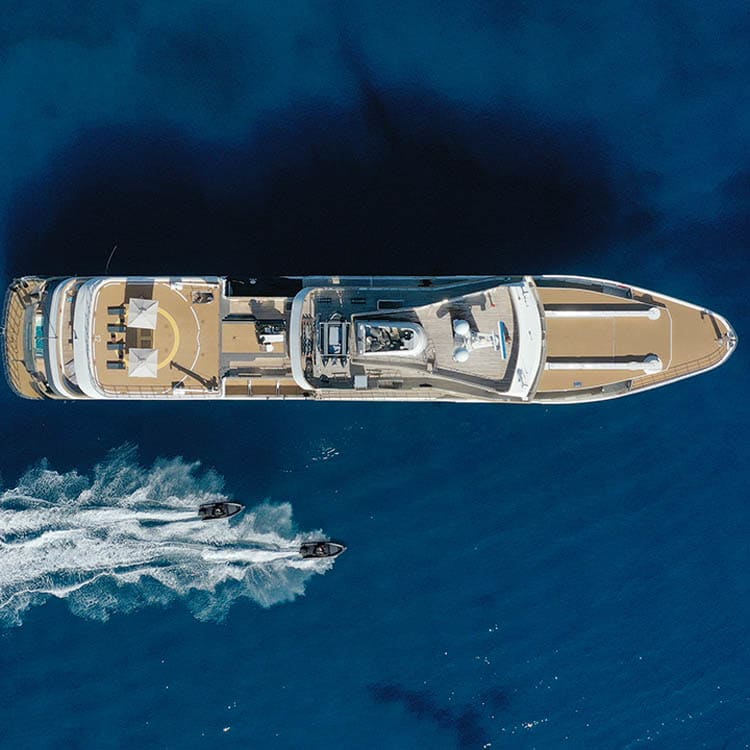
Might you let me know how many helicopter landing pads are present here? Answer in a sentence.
The picture shows 1 helicopter landing pad.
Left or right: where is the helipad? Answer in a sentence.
The helipad is on the left side of the image.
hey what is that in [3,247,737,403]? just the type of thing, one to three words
boat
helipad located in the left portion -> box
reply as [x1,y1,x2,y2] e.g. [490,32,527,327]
[94,282,219,394]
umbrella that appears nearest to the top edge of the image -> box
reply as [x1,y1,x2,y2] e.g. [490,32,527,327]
[130,298,160,328]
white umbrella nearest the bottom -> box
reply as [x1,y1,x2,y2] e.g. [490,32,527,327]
[129,348,159,378]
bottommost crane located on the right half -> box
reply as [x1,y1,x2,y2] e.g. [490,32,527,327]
[545,357,662,374]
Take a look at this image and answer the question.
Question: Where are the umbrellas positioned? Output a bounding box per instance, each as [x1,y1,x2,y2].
[130,298,160,328]
[129,348,159,378]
